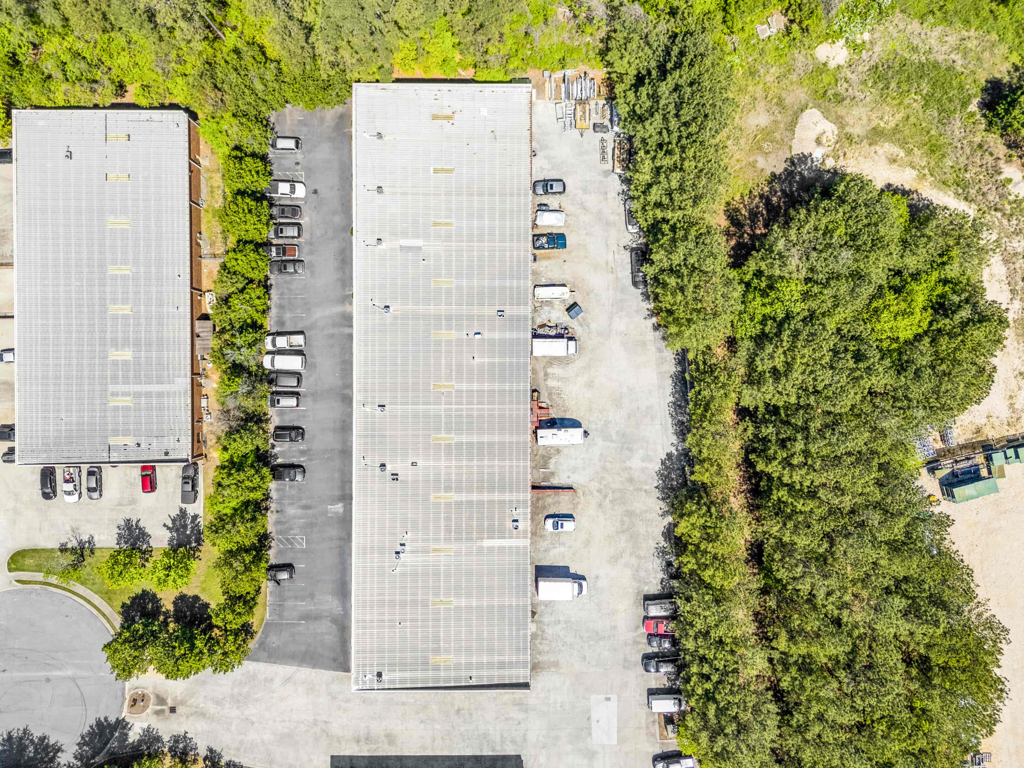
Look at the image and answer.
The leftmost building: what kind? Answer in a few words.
warehouse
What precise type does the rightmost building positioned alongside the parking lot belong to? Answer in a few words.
warehouse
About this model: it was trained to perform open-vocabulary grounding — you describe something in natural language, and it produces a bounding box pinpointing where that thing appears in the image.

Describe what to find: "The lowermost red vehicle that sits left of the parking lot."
[139,463,157,494]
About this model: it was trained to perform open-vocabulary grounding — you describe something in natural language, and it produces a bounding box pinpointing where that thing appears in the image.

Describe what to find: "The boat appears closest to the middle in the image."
[534,285,577,301]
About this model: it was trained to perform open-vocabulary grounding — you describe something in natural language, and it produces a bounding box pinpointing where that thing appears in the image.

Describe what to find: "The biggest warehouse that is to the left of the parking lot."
[8,107,204,464]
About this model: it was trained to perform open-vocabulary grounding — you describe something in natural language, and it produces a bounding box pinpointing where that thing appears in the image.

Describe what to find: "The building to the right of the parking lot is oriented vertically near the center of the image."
[352,82,534,692]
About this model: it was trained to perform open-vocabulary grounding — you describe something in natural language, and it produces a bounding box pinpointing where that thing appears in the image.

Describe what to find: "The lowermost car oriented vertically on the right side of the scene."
[631,248,649,289]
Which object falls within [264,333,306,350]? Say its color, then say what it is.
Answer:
white vehicle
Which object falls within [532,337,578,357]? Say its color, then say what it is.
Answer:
white vehicle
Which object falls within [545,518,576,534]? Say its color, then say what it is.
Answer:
white car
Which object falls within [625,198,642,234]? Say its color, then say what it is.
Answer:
gray car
